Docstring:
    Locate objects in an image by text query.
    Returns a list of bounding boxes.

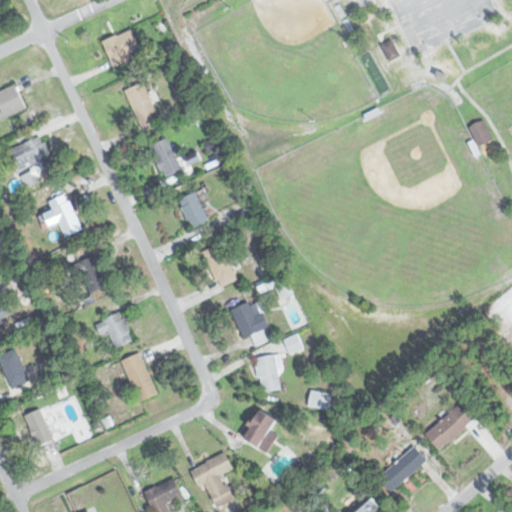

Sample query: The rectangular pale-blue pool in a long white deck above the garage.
[278,287,307,330]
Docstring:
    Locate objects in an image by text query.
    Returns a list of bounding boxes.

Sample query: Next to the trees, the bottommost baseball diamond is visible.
[257,86,512,304]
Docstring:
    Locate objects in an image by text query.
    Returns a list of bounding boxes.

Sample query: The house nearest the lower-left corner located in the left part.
[25,410,52,446]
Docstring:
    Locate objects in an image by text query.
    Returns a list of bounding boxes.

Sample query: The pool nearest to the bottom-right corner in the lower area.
[262,448,296,482]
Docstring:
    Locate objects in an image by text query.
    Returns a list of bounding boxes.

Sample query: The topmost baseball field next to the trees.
[194,0,378,121]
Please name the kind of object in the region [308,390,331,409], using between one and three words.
shed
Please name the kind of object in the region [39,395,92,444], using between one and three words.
swimming pool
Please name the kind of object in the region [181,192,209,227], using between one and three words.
house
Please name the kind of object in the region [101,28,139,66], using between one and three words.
house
